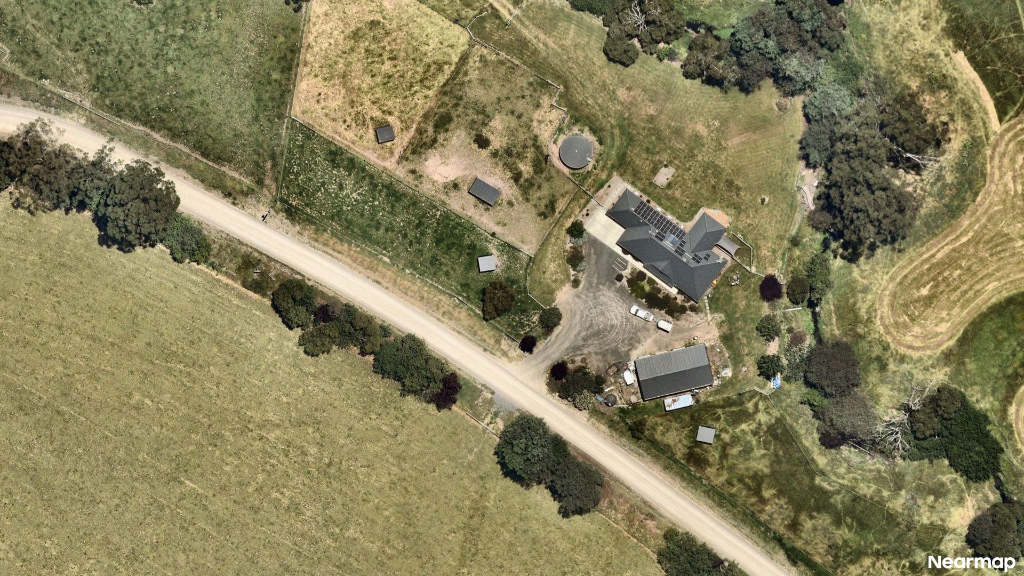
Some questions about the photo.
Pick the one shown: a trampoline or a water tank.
water tank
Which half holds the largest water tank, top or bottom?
top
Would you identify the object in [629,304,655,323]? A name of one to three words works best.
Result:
vehicle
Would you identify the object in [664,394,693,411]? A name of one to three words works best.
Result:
camper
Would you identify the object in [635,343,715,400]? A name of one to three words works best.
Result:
shed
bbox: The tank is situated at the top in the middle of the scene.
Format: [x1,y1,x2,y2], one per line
[559,134,594,169]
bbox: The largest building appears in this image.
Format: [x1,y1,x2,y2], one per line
[607,188,728,303]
